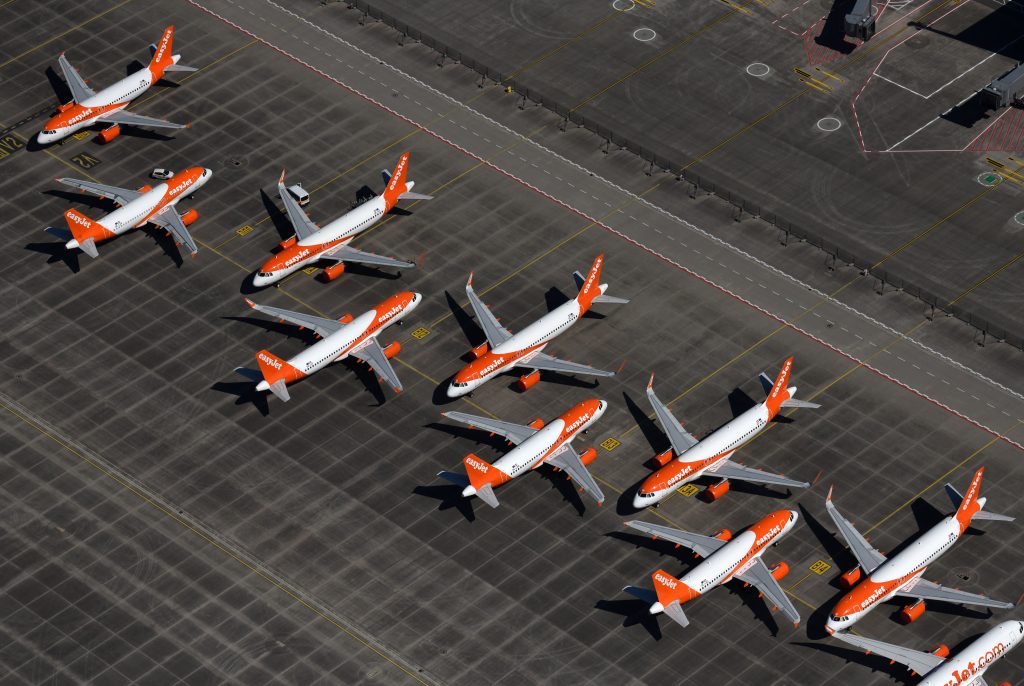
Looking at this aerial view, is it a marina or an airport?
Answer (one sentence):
This looks like an airport.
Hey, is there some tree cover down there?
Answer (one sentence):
No, tree cover can't be seen anywhere here.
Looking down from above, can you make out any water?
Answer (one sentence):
No, no water is visible.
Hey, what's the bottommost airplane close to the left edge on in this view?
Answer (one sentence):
In this view, the bottommost airplane close to the left edge is located on the apron.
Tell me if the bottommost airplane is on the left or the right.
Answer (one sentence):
You can find the bottommost airplane on the right side of the picture.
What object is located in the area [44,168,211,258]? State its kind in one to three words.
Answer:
airplane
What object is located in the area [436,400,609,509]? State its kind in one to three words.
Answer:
airplane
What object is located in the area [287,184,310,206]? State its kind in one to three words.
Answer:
vehicle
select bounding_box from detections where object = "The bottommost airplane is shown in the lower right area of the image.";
[826,620,1023,686]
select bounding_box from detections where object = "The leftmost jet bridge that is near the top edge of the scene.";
[844,0,874,40]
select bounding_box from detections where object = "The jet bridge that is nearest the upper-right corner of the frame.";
[980,63,1024,121]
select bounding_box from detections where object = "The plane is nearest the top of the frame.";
[38,26,199,144]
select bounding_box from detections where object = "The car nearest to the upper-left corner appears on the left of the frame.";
[150,167,174,180]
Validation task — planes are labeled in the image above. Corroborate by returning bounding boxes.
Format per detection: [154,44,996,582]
[445,253,631,396]
[826,466,1024,631]
[251,152,435,286]
[232,292,421,402]
[44,168,211,258]
[632,355,822,507]
[622,512,801,629]
[826,620,1023,686]
[436,400,609,509]
[38,26,199,144]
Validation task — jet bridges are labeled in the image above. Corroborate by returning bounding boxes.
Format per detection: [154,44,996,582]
[980,63,1024,121]
[844,0,874,40]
